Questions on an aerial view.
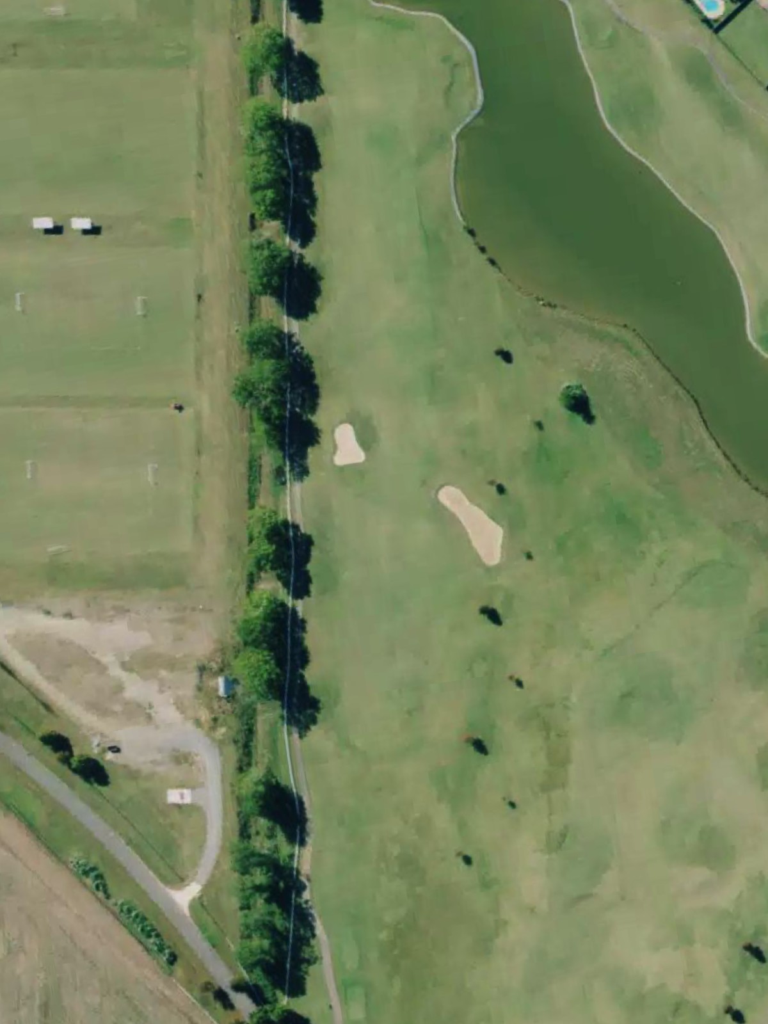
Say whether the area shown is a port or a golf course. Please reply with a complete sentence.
It's a golf course.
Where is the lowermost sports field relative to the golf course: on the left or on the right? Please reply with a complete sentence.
You can see the lowermost sports field positioned to the left of the golf course.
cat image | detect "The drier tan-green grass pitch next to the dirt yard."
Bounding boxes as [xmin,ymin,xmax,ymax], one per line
[0,410,192,558]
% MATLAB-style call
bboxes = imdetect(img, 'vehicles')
[107,744,118,751]
[170,405,179,410]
